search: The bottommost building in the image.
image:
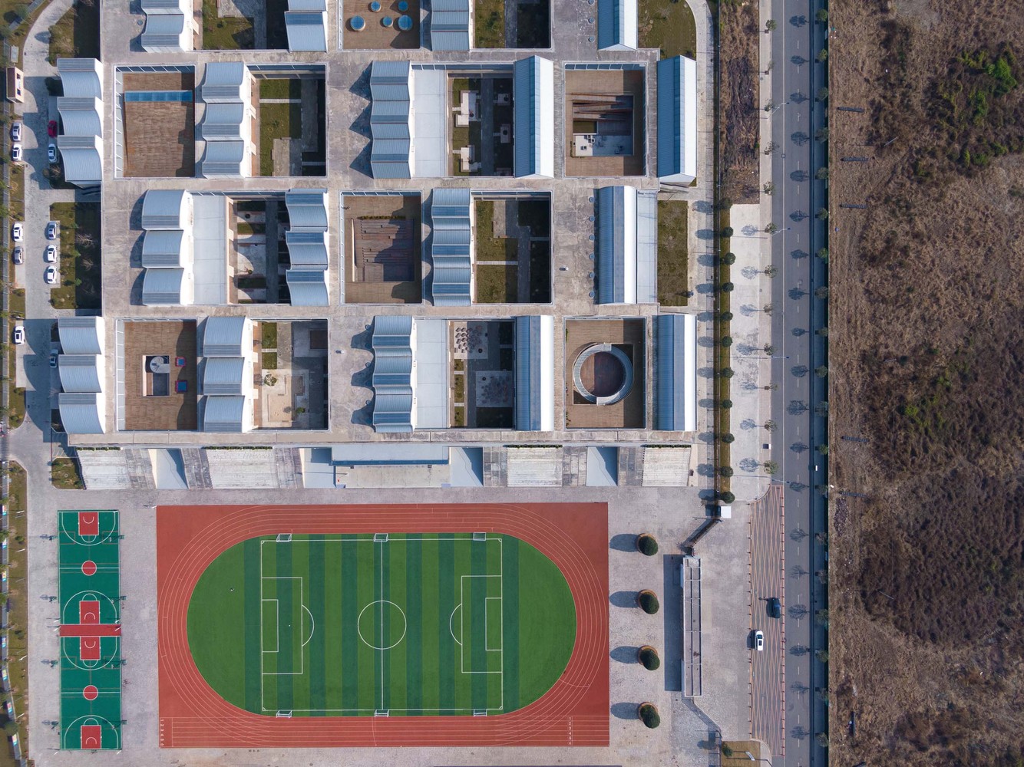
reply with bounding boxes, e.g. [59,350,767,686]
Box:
[681,557,701,700]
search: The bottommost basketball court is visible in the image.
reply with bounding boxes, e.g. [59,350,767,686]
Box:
[58,636,122,750]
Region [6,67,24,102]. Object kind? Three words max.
shed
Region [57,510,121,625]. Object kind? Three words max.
basketball court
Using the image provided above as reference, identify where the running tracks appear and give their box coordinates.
[156,503,609,748]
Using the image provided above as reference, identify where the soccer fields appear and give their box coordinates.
[187,533,576,717]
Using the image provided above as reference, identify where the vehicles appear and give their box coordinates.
[48,244,58,263]
[48,120,58,139]
[47,266,57,284]
[48,220,58,239]
[771,598,780,618]
[14,326,25,345]
[12,143,23,162]
[49,349,59,368]
[11,123,22,141]
[754,631,764,651]
[13,246,24,264]
[13,222,23,241]
[48,143,58,162]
